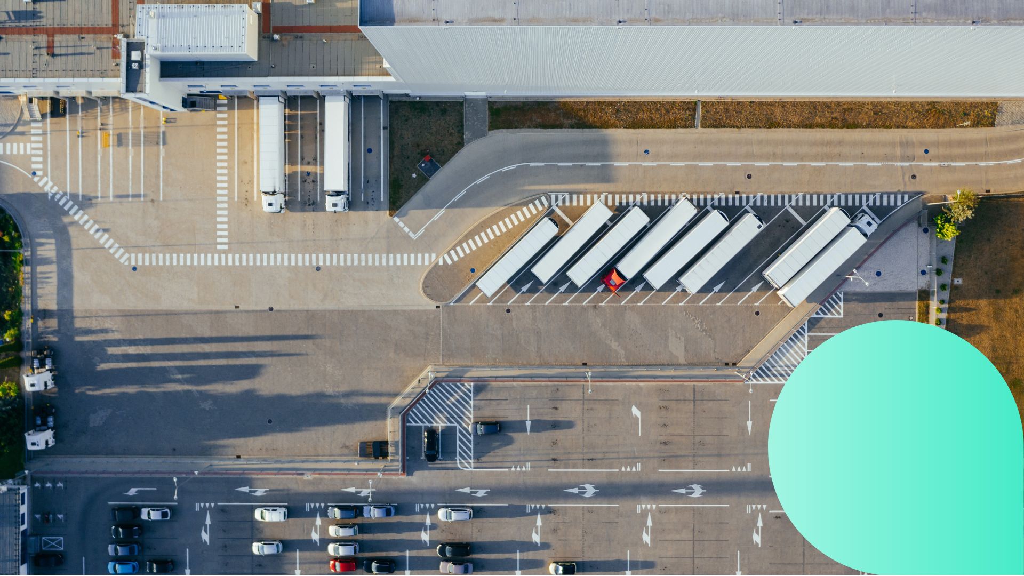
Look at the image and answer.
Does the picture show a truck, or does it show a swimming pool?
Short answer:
truck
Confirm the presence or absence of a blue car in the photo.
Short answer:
Yes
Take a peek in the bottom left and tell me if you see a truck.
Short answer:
Yes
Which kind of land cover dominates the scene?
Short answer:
paved ground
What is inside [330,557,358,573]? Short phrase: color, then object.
red car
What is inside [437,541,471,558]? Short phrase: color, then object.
black car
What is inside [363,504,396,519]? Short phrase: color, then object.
blue car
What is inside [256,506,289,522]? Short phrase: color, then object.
white car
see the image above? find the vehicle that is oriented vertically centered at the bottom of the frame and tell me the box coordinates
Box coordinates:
[423,428,439,462]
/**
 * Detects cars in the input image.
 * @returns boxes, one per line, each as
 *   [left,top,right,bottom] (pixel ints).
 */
[256,506,289,522]
[142,505,173,521]
[438,506,473,522]
[328,504,360,520]
[109,558,142,575]
[363,504,396,519]
[364,557,396,573]
[328,540,360,556]
[253,539,285,555]
[423,428,439,462]
[549,560,576,576]
[148,557,176,574]
[35,551,67,567]
[109,541,143,557]
[112,523,144,539]
[471,420,501,435]
[330,557,358,573]
[437,541,471,558]
[329,522,359,538]
[111,505,142,521]
[440,559,474,575]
